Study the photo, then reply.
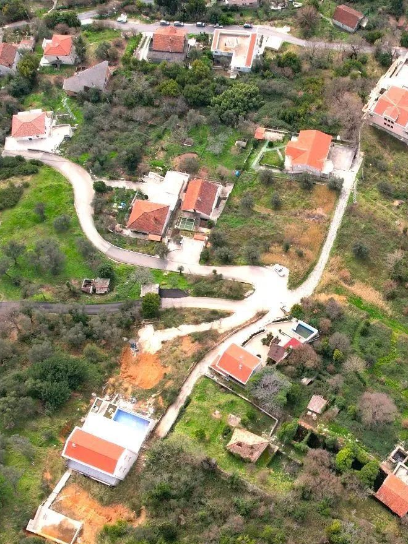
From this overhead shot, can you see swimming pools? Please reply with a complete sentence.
Yes, a swimming pool is visible in the scene.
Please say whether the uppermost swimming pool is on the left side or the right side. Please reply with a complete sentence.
The uppermost swimming pool sits on the right side.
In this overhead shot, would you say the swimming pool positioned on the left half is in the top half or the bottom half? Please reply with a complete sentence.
You can find the swimming pool positioned on the left half in the bottom half.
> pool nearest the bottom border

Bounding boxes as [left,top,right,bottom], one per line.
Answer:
[112,407,152,435]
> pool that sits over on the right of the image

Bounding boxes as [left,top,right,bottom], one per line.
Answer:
[292,320,318,341]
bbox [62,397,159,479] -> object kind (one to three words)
house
